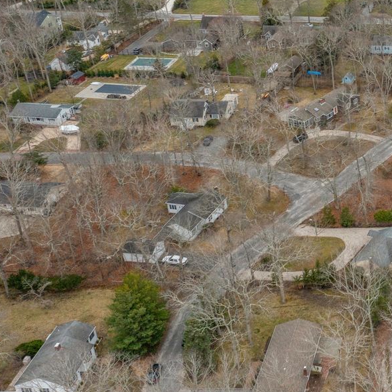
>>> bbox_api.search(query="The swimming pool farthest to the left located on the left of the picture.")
[75,82,147,100]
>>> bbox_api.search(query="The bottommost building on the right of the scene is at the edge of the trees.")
[253,318,329,392]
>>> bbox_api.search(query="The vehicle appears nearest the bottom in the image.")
[143,360,164,388]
